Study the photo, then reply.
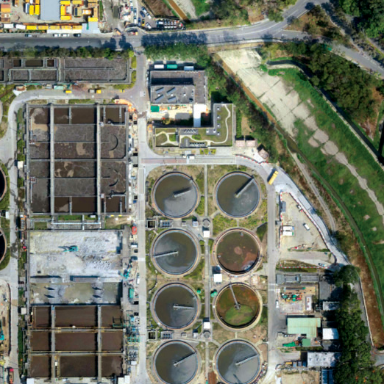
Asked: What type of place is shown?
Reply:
industrial area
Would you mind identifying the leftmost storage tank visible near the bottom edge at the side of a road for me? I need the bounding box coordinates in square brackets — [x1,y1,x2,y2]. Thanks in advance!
[28,305,126,384]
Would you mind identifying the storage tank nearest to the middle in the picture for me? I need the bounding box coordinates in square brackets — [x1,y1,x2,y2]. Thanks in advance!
[151,170,201,220]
